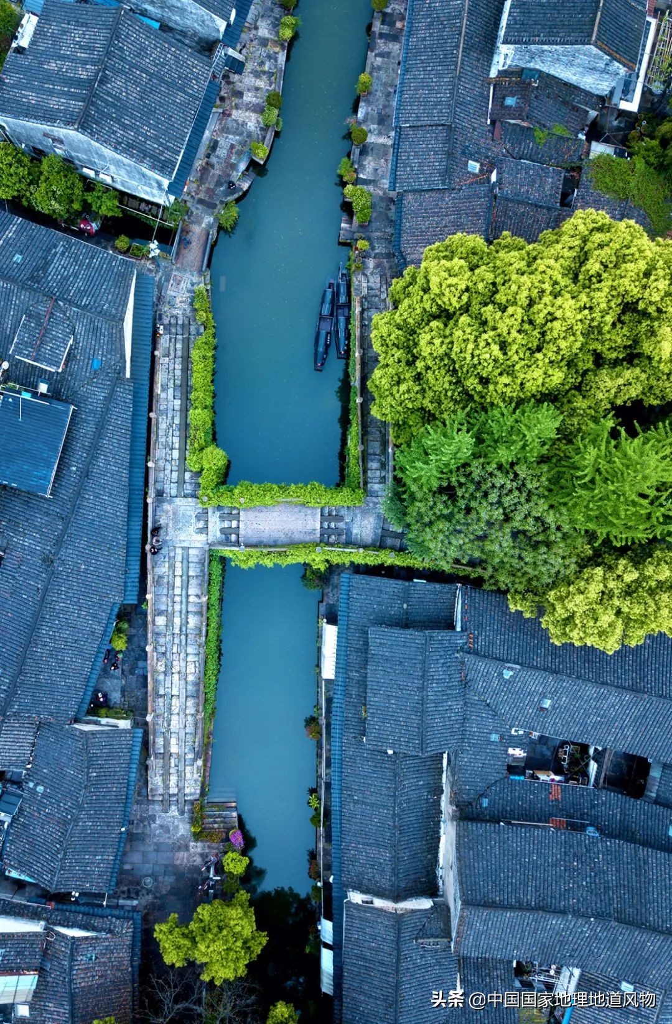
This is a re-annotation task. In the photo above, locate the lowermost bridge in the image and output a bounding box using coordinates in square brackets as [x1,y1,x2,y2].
[145,294,491,799]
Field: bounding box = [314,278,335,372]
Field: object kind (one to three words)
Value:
boat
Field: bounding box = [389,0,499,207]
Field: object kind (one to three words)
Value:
house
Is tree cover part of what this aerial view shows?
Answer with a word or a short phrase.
Yes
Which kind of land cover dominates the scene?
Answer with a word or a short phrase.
buildings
